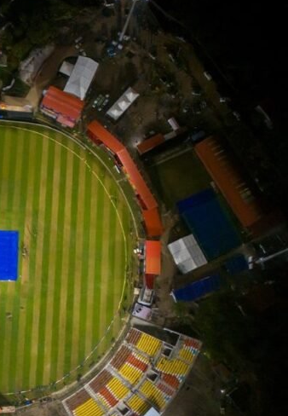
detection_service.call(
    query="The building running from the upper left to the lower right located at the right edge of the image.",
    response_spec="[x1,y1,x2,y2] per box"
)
[194,129,280,229]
